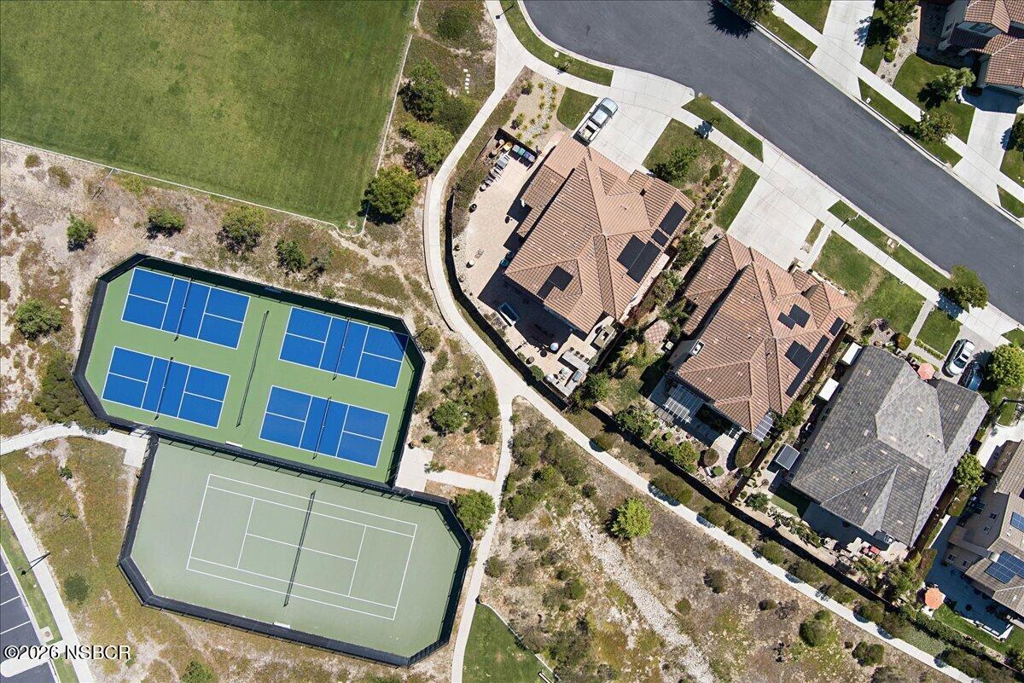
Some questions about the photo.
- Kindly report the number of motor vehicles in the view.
three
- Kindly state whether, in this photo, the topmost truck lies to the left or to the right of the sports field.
right of it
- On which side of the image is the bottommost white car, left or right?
right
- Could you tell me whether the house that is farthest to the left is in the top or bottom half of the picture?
top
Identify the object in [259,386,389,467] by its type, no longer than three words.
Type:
sports court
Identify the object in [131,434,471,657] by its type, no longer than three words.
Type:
tennis court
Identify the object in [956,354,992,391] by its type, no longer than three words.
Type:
car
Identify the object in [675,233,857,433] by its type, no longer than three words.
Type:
house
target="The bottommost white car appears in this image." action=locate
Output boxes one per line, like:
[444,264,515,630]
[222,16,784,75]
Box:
[943,334,980,378]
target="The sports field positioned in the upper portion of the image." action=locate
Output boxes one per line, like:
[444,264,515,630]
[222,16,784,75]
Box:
[0,0,421,237]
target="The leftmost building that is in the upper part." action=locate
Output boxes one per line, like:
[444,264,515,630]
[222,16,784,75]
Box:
[505,134,695,333]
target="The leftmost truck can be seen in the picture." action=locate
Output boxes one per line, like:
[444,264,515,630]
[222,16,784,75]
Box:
[577,96,617,145]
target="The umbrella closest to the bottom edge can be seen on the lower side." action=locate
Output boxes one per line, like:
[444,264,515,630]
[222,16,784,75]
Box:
[920,587,941,607]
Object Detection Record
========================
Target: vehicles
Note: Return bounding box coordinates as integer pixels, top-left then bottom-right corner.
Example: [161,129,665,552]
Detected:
[577,96,617,145]
[956,354,992,391]
[943,334,980,378]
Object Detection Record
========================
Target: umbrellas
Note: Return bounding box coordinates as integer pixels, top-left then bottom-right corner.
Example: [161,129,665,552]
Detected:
[920,587,941,607]
[913,362,933,380]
